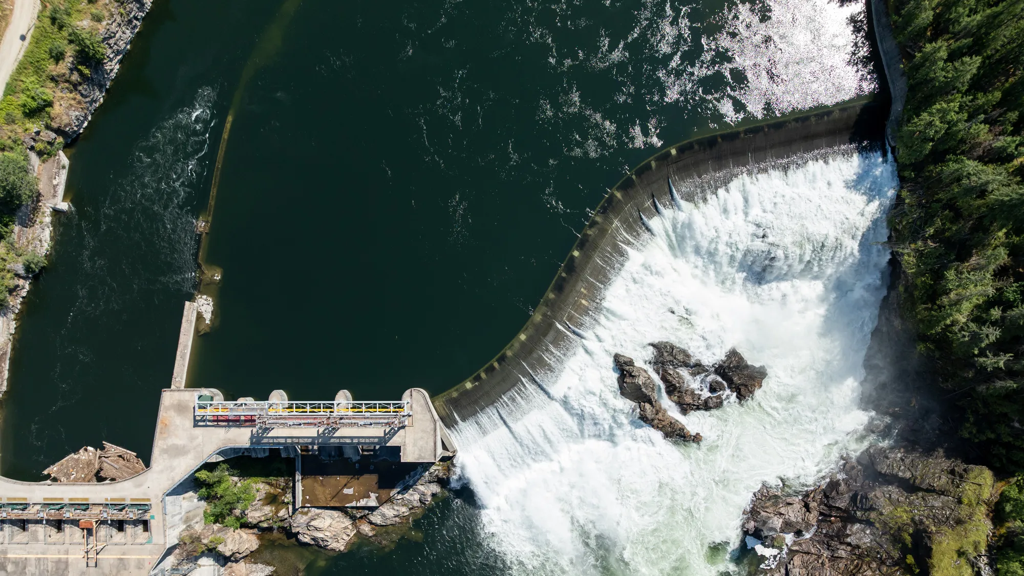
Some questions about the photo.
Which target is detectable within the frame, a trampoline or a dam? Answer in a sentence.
Of the two, only a dam appears.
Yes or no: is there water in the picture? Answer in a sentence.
Yes, water can be seen from above here.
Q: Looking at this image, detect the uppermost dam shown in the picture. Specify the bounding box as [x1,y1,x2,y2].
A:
[432,94,881,438]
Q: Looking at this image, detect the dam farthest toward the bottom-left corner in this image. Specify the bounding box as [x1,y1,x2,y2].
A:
[0,388,458,576]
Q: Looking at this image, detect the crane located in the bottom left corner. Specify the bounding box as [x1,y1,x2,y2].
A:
[80,518,108,562]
